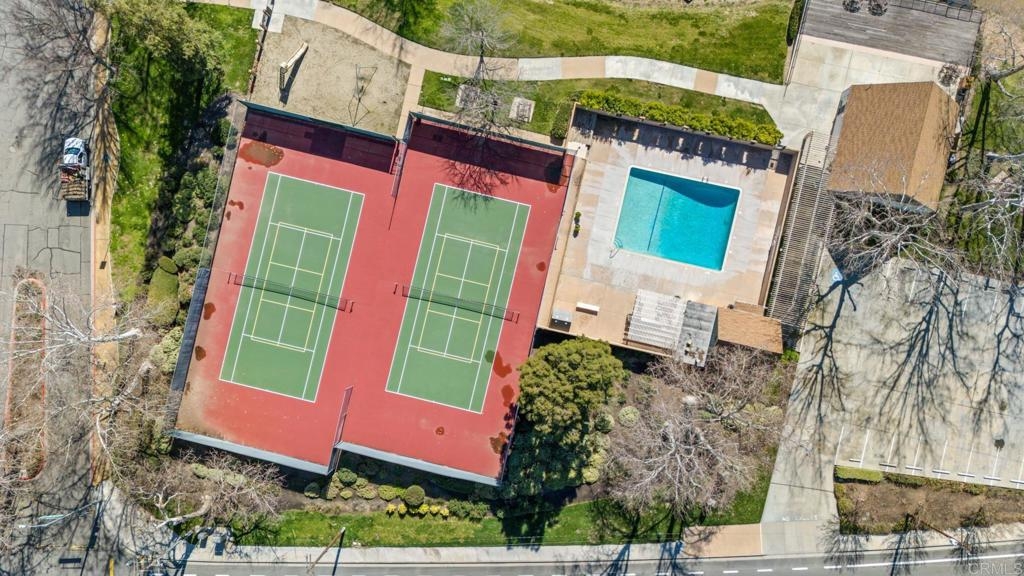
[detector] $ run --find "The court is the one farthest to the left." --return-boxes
[176,108,407,467]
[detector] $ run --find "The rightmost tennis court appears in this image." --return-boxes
[336,119,569,480]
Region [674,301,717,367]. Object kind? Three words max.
building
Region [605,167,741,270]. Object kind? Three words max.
swimming pool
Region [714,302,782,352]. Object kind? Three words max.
shed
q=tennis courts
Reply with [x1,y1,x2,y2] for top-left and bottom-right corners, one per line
[176,108,407,467]
[336,119,569,480]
